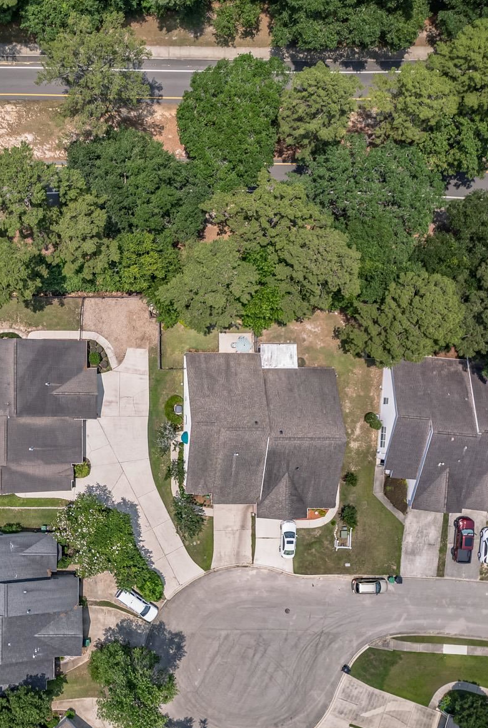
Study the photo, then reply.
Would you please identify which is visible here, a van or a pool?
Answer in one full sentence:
Visible in the photo is a van.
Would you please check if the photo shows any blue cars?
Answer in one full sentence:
No, I find no blue car anywhere in the image.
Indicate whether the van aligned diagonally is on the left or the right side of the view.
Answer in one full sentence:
The van aligned diagonally sits on the left side.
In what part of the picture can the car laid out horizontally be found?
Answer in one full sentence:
The car laid out horizontally is located in the bottom right region of the scene.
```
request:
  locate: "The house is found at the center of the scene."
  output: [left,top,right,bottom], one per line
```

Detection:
[184,343,346,520]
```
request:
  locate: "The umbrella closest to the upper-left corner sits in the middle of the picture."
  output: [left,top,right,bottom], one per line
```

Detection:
[234,335,252,352]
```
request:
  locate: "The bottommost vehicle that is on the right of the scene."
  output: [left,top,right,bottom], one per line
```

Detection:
[349,576,390,596]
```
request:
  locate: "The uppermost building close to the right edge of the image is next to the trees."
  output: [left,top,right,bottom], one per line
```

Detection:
[375,356,488,513]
